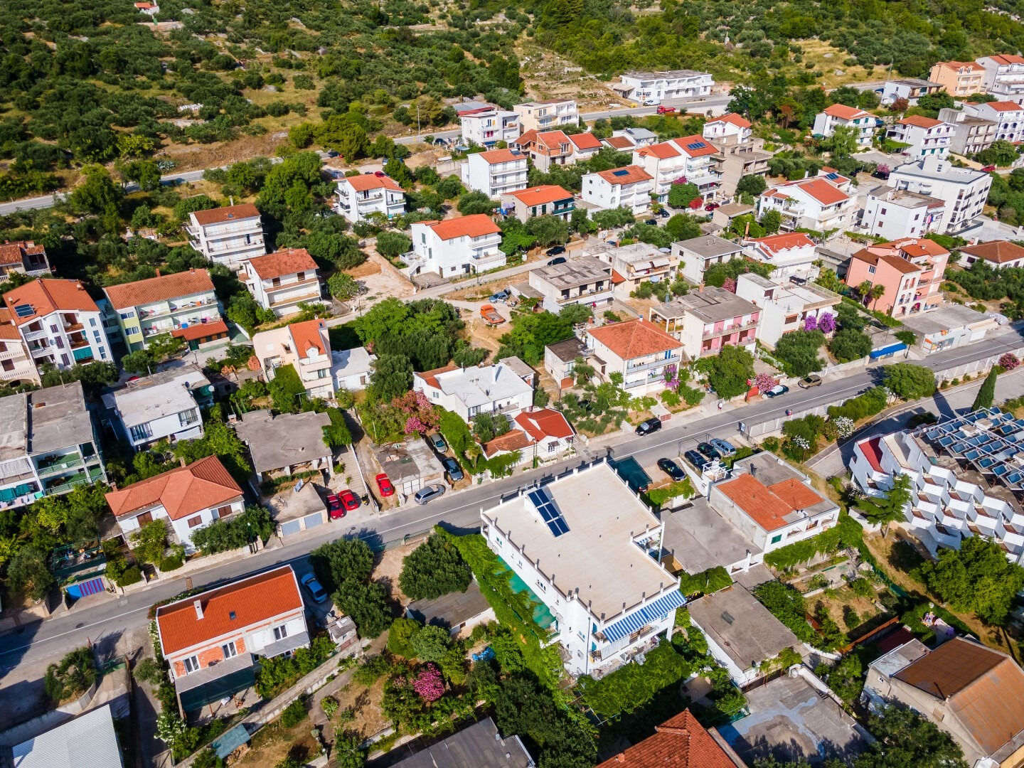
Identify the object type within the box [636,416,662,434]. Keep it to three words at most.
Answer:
vehicle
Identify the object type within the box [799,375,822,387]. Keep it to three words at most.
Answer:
vehicle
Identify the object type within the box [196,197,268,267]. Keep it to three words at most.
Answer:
building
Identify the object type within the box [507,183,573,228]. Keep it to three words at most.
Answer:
house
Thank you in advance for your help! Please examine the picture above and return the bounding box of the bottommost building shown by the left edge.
[12,703,130,768]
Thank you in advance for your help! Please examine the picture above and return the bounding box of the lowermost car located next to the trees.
[302,573,326,600]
